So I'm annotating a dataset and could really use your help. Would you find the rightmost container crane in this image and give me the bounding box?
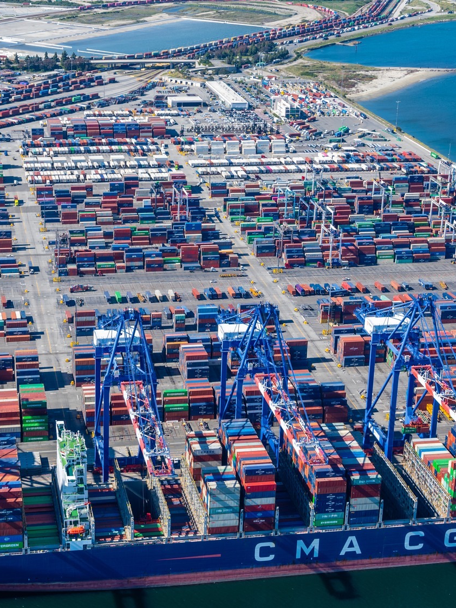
[353,292,456,465]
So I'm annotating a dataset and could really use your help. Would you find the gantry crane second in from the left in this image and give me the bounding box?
[213,299,337,472]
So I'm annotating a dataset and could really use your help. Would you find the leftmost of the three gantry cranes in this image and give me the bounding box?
[87,304,179,534]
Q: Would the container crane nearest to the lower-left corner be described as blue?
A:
Yes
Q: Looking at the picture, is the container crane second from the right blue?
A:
Yes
